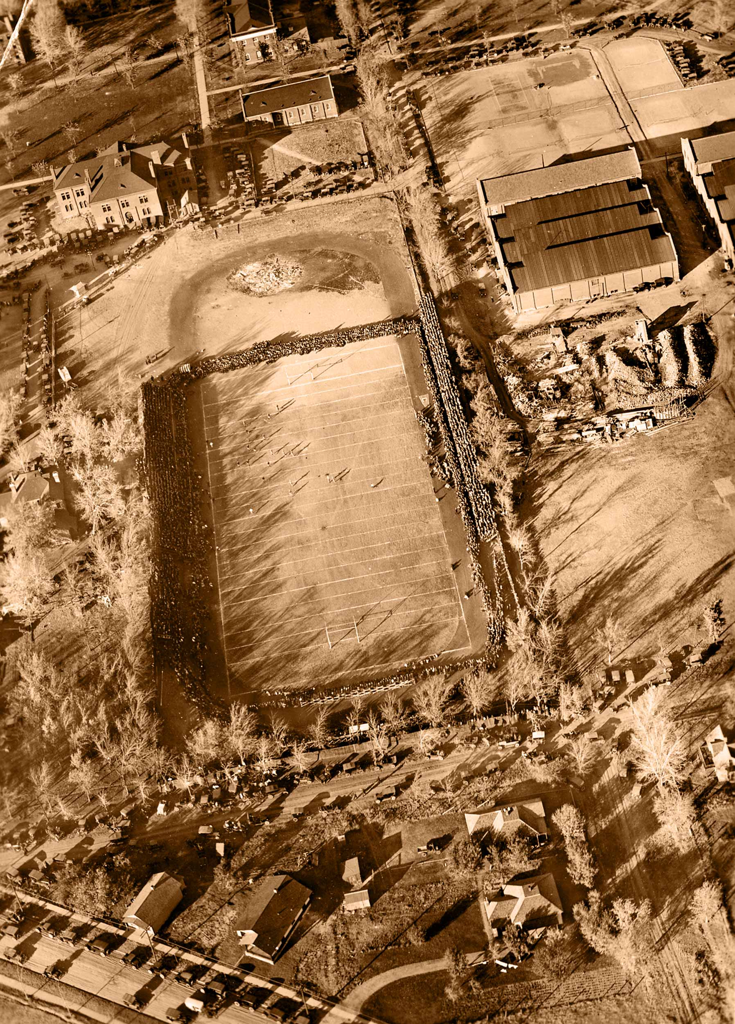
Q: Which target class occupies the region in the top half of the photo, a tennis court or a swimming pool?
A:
tennis court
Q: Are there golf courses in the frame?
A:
No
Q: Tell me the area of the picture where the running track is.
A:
center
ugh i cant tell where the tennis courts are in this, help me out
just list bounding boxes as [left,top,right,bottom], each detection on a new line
[562,115,625,158]
[610,42,678,89]
[483,70,537,117]
[639,97,711,142]
[502,127,564,171]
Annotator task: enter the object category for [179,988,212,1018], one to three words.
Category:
truck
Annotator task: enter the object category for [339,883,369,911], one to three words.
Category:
shed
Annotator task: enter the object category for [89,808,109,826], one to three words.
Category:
car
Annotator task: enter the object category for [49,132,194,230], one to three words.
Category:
building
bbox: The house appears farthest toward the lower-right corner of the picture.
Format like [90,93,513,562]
[486,872,567,941]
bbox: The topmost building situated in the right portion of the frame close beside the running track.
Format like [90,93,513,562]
[478,147,680,314]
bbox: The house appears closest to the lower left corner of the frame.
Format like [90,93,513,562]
[117,873,184,948]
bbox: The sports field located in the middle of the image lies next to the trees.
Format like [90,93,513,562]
[200,343,472,697]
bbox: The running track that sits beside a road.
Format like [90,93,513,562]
[168,235,504,716]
